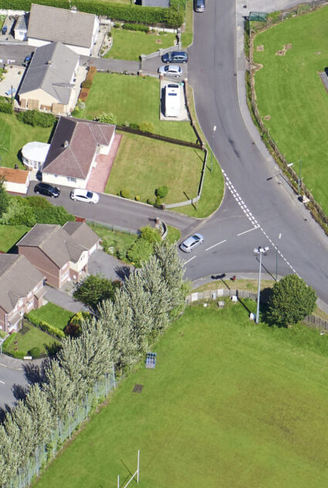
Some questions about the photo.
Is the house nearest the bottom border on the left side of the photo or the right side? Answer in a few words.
left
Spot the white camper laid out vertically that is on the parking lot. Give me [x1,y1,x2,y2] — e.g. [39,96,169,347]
[166,80,181,115]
